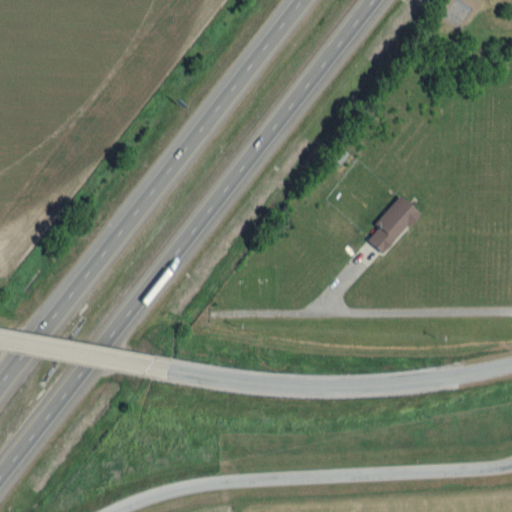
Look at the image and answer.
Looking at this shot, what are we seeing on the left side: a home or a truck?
truck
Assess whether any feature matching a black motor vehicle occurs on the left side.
No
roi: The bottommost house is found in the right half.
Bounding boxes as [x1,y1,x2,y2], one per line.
[367,195,422,254]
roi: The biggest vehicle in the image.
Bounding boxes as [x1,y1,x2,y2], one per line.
[141,259,182,308]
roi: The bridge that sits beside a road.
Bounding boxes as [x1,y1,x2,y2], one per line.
[0,328,173,382]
